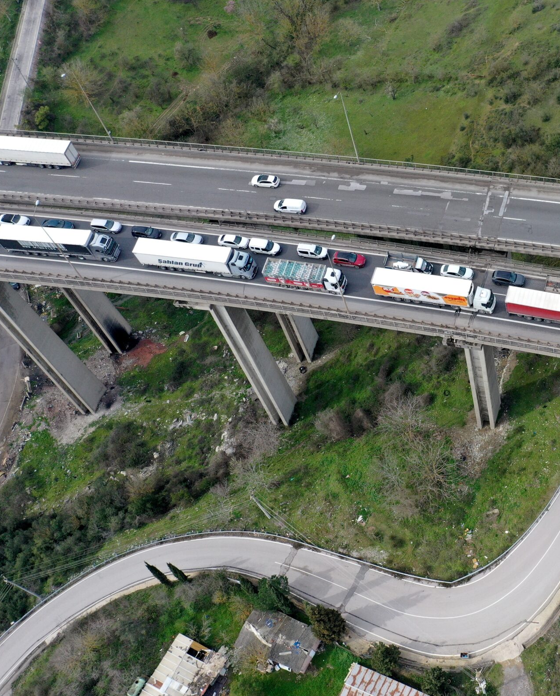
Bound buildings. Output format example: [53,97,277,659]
[230,611,322,677]
[333,662,418,696]
[134,635,216,696]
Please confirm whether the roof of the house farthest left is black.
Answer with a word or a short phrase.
No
